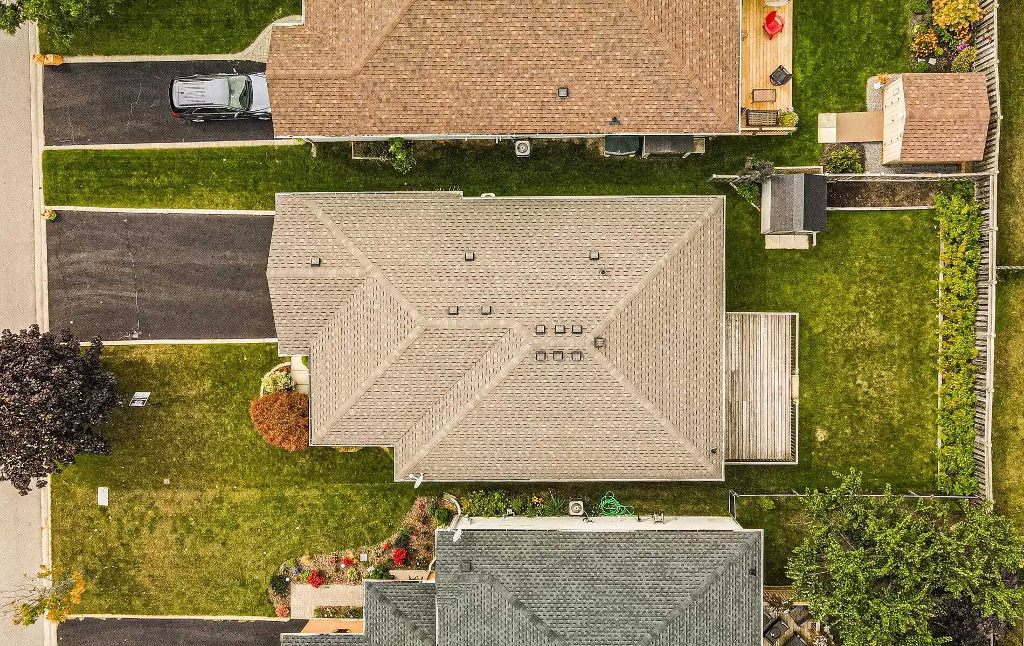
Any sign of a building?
Yes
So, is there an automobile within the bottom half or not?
No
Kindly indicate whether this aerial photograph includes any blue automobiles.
No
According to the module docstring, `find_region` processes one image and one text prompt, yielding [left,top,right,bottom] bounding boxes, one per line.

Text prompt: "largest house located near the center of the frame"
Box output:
[266,189,728,487]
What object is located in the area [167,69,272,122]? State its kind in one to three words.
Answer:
car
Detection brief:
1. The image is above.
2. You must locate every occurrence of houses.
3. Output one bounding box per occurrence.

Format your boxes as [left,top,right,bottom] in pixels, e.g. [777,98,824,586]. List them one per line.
[278,497,766,646]
[267,0,743,149]
[266,189,728,487]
